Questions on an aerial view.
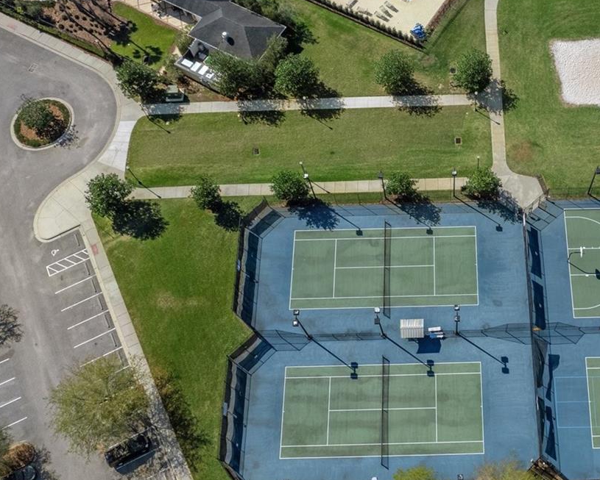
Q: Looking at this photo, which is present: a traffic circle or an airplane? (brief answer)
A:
traffic circle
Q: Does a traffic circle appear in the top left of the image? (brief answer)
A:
Yes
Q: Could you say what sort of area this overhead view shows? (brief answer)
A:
sports ground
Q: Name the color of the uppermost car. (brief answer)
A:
black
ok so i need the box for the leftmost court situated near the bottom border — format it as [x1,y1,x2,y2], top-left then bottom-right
[221,332,539,480]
